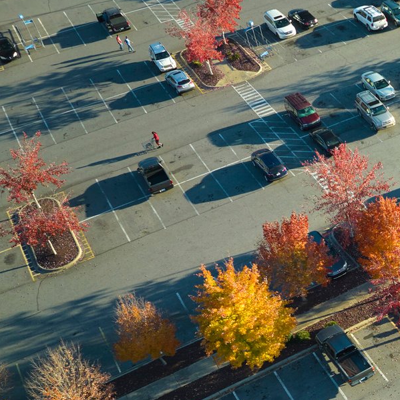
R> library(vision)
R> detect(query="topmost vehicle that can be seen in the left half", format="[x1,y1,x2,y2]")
[98,6,133,36]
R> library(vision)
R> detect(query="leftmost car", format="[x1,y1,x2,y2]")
[0,38,24,65]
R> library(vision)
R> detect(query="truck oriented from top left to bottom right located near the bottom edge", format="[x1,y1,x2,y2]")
[314,323,383,396]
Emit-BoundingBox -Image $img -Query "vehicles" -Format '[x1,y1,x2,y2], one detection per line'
[98,6,133,36]
[359,70,400,102]
[356,90,397,130]
[355,6,390,33]
[314,323,383,396]
[131,150,175,197]
[306,124,348,159]
[165,70,196,97]
[262,8,299,40]
[0,38,24,65]
[250,148,290,186]
[376,0,400,27]
[146,41,181,75]
[288,8,321,32]
[280,90,323,133]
